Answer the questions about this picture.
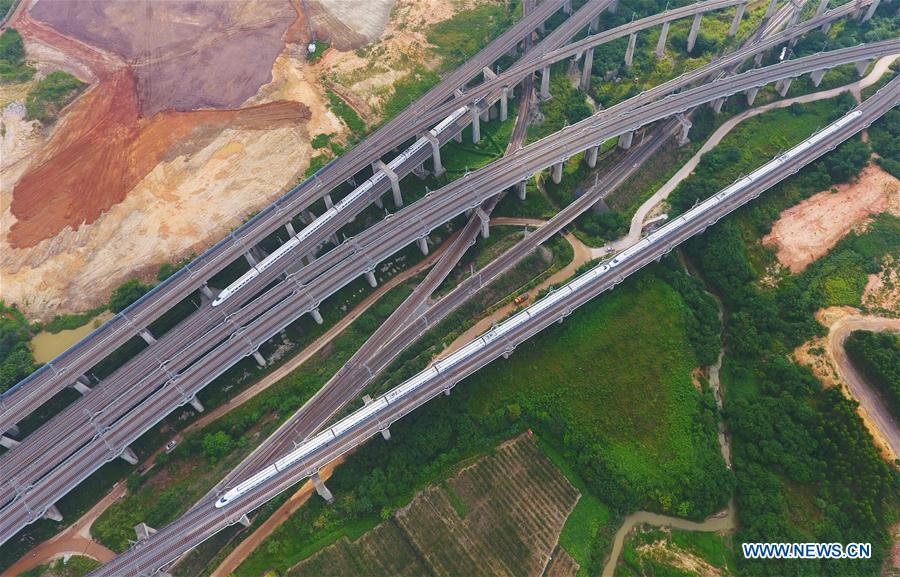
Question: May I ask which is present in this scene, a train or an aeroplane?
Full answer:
It is a train that can be seen here.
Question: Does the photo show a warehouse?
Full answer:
No, the picture doesn't show any warehouse.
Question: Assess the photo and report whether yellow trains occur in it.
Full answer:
No, there isn't any yellow train down there.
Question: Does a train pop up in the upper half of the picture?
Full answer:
Yes, a train is visible in the upper half of the picture.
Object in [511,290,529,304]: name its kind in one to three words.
vehicle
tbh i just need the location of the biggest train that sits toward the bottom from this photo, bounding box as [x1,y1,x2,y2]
[217,265,611,505]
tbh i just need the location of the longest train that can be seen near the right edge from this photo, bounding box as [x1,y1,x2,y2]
[611,107,863,266]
